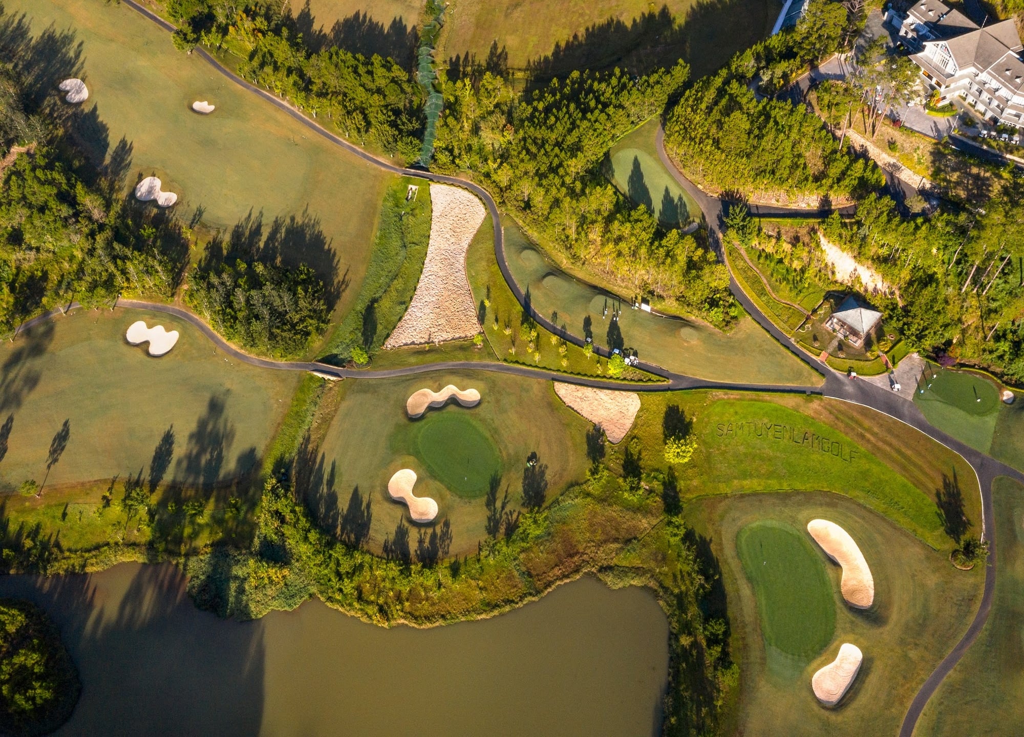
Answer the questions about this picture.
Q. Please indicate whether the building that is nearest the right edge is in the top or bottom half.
top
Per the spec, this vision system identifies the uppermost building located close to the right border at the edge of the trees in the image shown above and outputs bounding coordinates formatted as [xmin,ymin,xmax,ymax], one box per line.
[882,0,1024,121]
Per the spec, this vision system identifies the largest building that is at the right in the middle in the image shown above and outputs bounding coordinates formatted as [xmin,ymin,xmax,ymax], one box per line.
[822,296,883,350]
